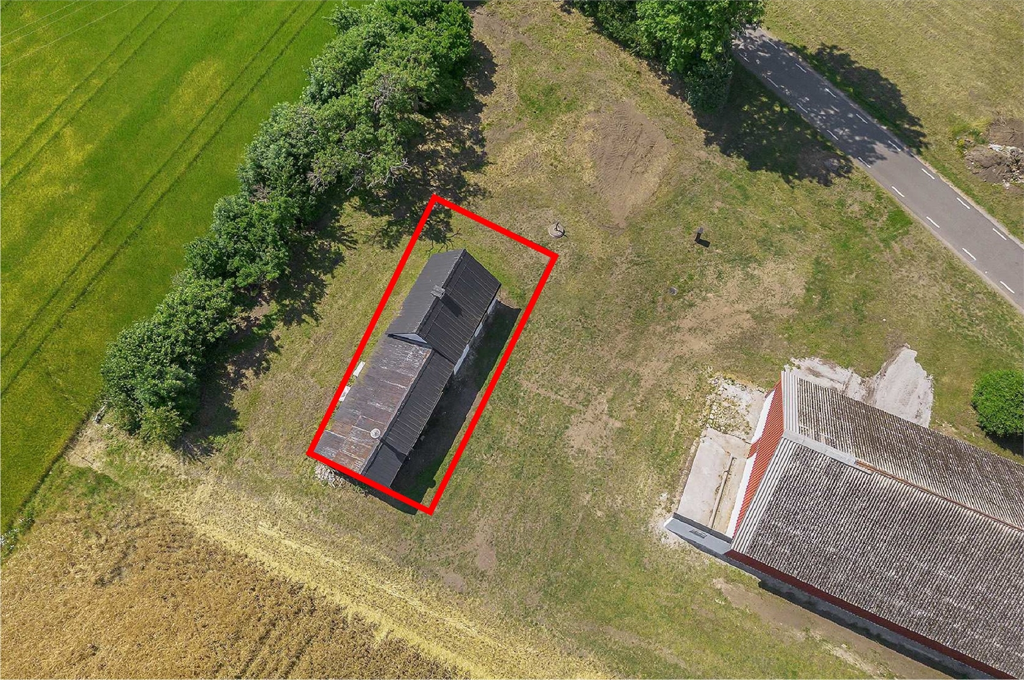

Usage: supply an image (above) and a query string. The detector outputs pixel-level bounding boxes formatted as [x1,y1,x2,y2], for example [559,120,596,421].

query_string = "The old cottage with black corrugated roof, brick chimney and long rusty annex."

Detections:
[311,251,502,498]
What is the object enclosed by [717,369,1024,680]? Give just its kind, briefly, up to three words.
barn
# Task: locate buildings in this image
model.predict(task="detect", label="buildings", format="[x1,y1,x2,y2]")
[717,369,1024,680]
[311,251,502,498]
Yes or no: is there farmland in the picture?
Yes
